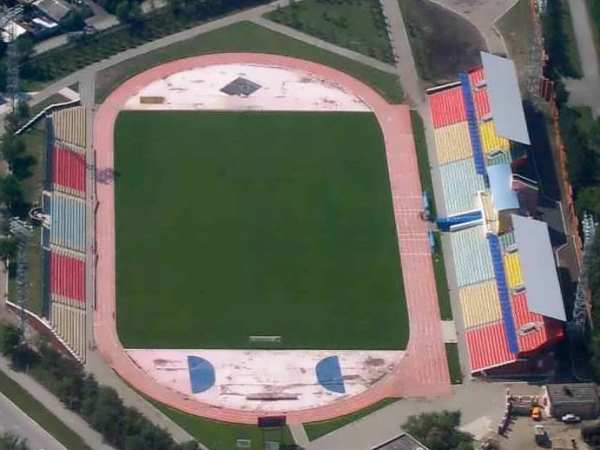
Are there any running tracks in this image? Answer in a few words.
Yes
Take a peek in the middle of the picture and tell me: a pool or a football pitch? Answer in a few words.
football pitch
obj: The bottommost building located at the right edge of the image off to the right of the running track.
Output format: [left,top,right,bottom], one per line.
[542,378,600,418]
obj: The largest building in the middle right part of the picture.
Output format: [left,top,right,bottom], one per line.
[524,171,557,229]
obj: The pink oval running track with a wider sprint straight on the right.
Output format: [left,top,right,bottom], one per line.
[91,52,453,426]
